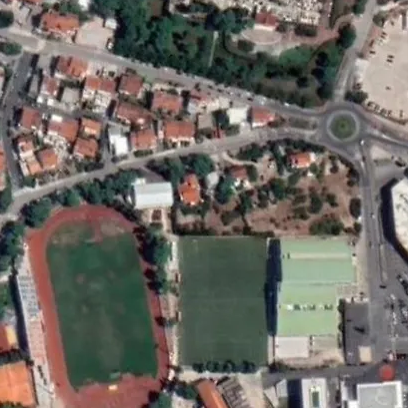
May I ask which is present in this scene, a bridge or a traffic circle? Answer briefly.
traffic circle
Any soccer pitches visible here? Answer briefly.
Yes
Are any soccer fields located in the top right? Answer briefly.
No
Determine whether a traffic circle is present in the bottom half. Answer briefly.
No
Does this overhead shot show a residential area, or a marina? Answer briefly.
residential area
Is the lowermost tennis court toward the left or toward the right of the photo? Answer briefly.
left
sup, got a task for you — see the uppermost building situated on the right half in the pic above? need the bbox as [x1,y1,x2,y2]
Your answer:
[254,12,280,31]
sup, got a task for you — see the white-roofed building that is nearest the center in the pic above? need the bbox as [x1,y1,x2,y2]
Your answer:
[135,178,173,210]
